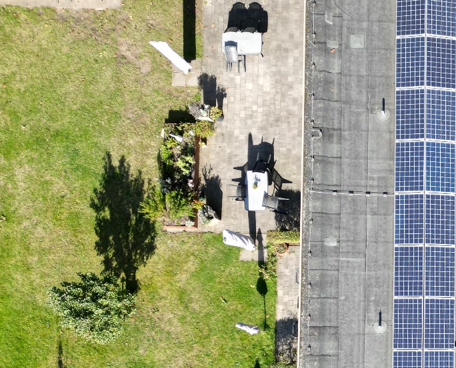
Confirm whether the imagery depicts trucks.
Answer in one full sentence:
No, I can see no truck in this picture.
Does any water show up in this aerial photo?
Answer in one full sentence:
No, the scene doesn't show any water.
